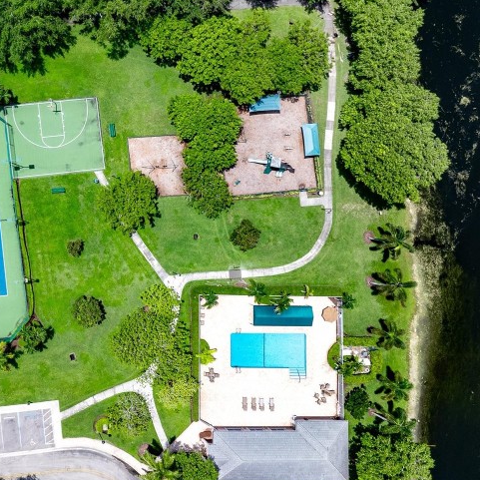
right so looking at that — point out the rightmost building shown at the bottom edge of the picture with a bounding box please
[207,416,348,480]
